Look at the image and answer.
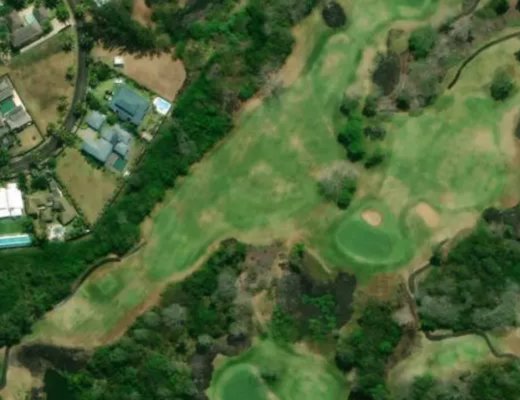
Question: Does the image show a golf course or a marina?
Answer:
golf course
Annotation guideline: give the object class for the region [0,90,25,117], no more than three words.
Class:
swimming pool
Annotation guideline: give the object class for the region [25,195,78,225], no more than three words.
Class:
house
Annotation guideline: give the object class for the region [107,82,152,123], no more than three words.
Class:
house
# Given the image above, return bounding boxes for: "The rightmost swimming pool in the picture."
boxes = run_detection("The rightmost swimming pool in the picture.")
[154,96,172,115]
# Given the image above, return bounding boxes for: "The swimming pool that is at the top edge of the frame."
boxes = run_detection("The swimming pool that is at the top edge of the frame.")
[19,7,38,25]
